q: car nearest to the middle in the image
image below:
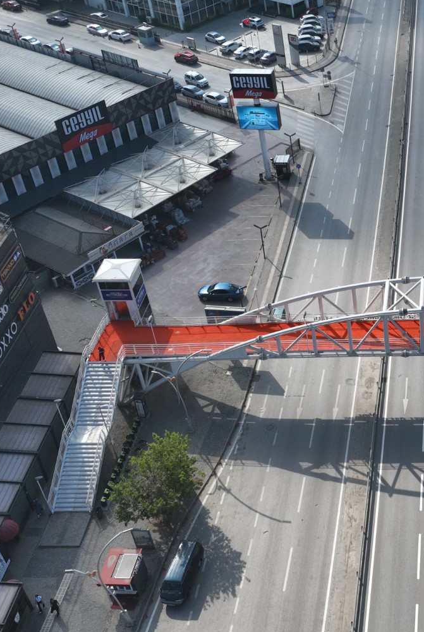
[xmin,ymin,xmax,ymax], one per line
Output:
[197,282,248,303]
